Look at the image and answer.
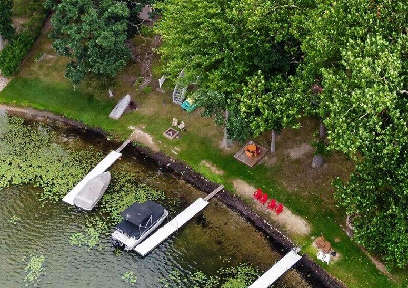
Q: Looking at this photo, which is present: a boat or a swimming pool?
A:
boat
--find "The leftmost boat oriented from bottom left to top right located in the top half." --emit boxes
[111,92,132,118]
